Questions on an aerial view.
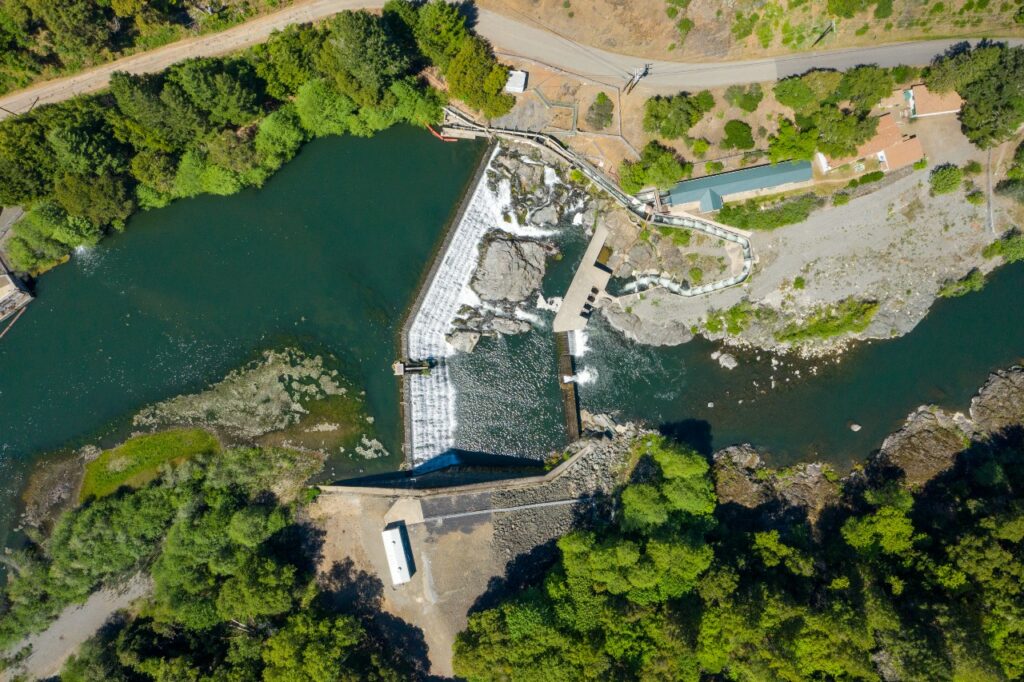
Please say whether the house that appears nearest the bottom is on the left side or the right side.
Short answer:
left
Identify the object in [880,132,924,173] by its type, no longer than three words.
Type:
house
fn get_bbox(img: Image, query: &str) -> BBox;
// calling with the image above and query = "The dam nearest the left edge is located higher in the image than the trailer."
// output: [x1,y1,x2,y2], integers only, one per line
[403,140,510,484]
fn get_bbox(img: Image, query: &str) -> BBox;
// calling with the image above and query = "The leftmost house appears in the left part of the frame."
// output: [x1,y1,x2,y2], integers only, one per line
[0,251,40,329]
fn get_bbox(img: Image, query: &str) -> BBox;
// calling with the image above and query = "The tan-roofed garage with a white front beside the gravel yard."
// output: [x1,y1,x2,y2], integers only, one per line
[907,86,966,124]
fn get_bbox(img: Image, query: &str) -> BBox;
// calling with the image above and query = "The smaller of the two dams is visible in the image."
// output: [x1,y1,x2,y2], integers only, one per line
[555,333,580,442]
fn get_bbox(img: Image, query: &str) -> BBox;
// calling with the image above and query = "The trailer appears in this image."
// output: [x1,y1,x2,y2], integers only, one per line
[382,525,413,586]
